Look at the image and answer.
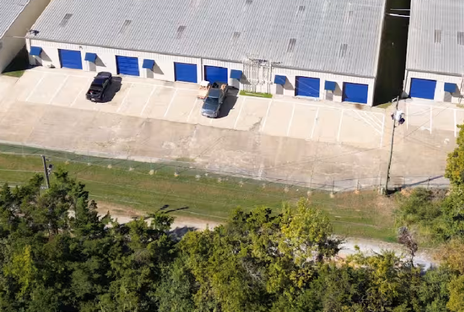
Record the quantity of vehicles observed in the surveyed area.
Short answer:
2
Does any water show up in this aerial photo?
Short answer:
No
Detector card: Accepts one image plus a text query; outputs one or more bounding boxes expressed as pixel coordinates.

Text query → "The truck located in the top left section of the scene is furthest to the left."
[78,68,113,99]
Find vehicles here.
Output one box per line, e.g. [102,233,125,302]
[200,78,229,110]
[78,68,113,99]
